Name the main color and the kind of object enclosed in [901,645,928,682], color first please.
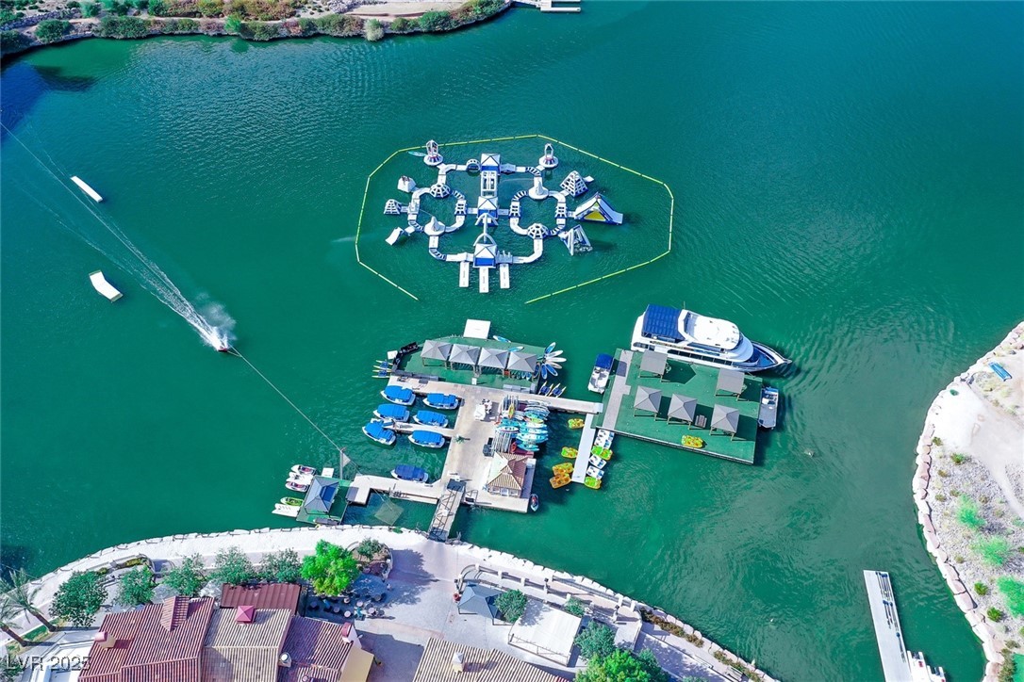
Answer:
white boat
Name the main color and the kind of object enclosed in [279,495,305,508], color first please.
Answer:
green boat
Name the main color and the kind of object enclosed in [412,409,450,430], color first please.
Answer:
blue boat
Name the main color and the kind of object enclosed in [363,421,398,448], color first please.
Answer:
blue boat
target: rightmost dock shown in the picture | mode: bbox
[862,571,909,682]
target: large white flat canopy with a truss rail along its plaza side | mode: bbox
[509,597,582,667]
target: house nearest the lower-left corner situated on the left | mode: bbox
[20,639,92,682]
